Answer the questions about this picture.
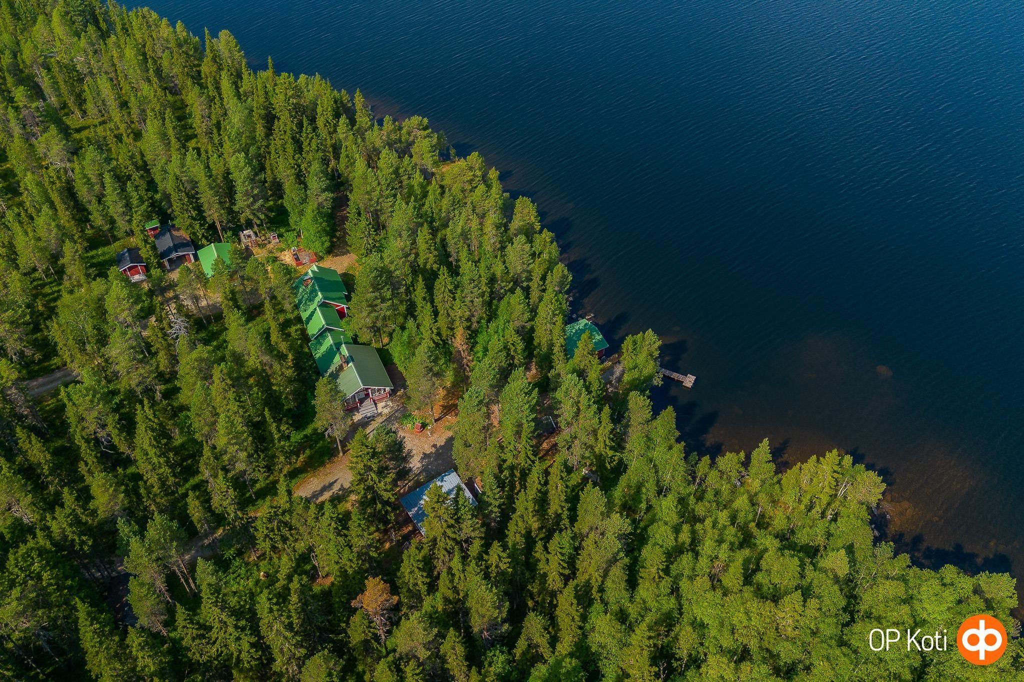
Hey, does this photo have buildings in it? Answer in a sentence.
Yes, there's a building down there.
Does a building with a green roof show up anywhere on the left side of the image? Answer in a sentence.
Yes, looking on the left side of the image, one can make out a building with a green roof.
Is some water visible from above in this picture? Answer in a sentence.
Yes, the picture does contain water.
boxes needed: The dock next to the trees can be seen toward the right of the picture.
[656,366,697,391]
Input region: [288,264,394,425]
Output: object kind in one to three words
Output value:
building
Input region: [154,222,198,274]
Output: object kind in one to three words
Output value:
building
